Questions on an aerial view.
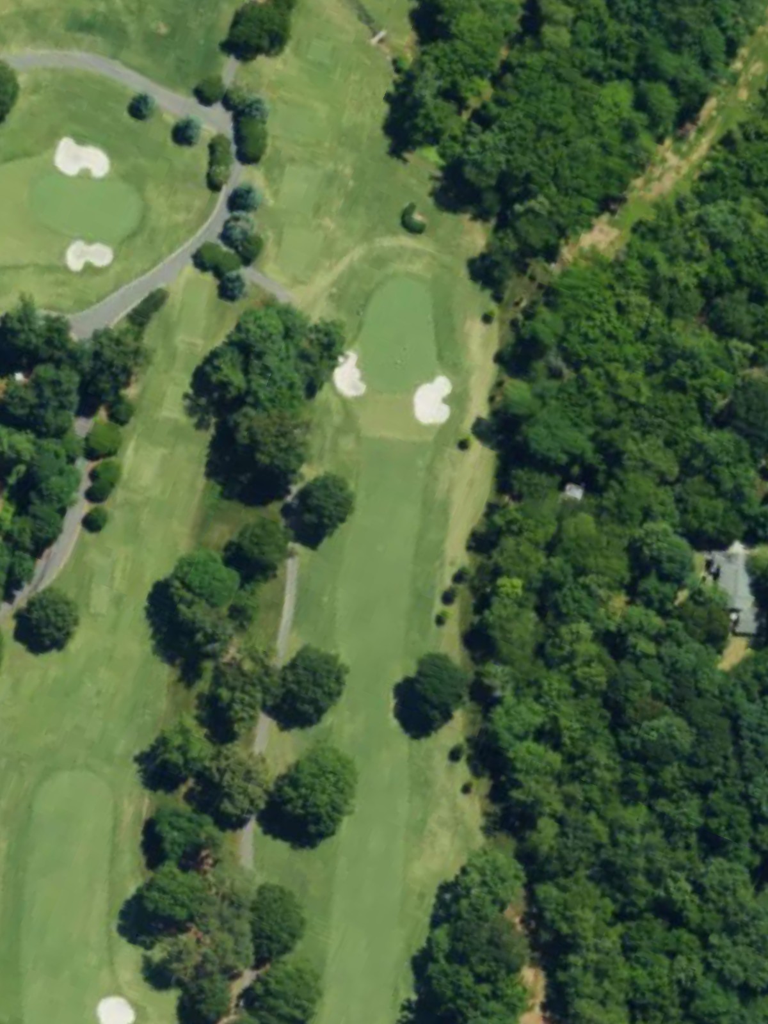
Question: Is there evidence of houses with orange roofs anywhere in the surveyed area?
No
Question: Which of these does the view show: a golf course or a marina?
golf course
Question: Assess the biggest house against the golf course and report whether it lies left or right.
to its right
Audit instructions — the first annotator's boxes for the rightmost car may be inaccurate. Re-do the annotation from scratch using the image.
[705,562,720,579]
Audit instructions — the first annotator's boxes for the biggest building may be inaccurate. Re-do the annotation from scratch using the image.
[707,541,762,634]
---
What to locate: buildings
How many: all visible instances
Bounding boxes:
[707,541,762,634]
[564,484,585,500]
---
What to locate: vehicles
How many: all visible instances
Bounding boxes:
[14,371,22,381]
[705,562,720,579]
